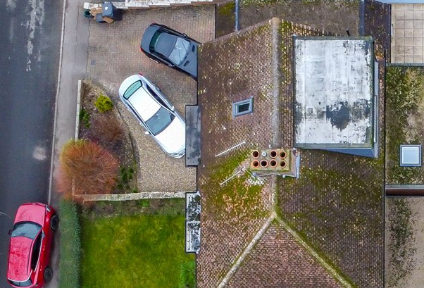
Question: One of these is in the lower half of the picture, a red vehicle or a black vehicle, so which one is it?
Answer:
red vehicle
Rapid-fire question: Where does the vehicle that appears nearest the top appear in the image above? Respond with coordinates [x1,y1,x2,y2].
[133,16,203,76]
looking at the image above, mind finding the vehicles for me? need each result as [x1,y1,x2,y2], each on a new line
[109,66,185,154]
[133,16,203,76]
[4,202,58,288]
